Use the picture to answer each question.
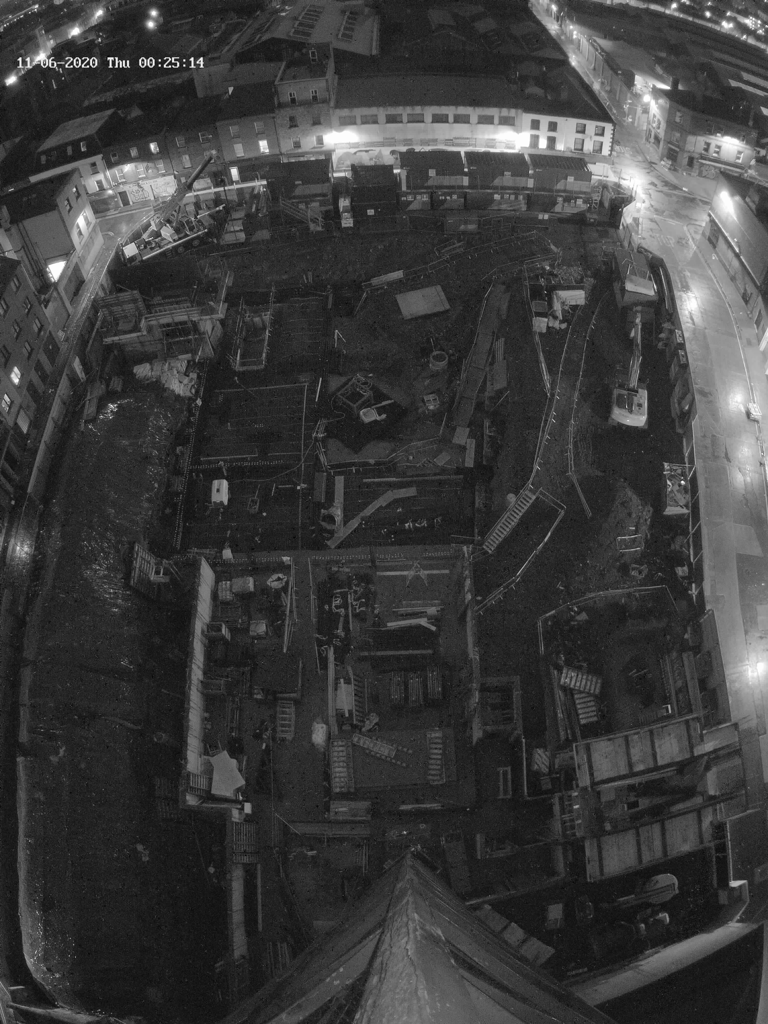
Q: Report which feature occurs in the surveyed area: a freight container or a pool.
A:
freight container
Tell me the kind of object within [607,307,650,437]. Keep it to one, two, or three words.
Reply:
work vehicle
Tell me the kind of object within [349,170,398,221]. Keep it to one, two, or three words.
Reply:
building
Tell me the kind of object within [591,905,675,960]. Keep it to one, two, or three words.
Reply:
truck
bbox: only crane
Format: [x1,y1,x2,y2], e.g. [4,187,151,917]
[103,144,234,278]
